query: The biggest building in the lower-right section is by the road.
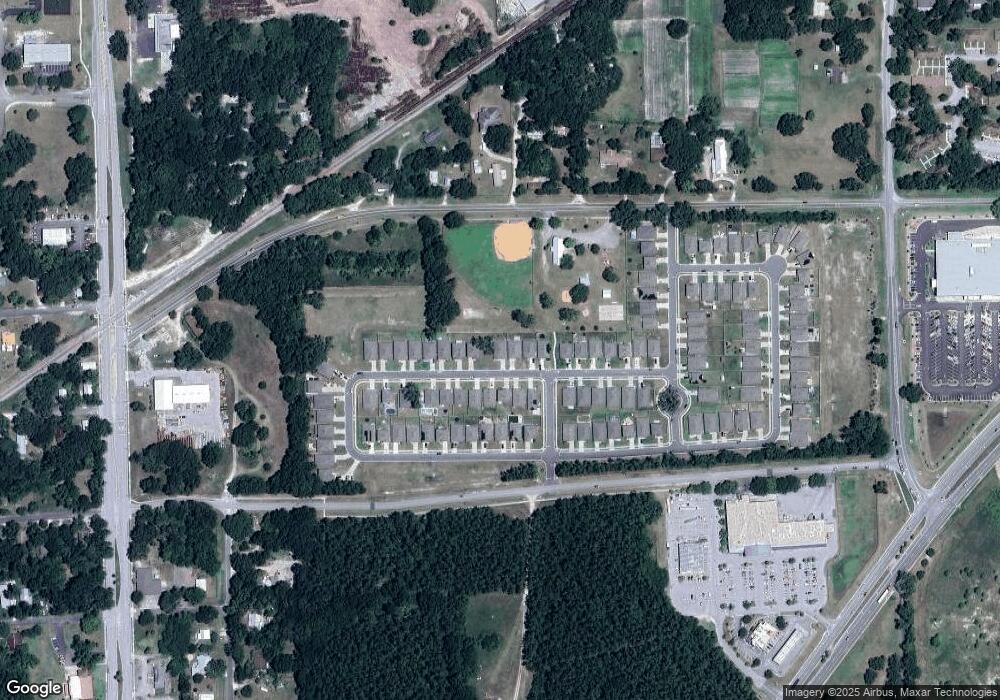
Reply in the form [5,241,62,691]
[727,494,834,556]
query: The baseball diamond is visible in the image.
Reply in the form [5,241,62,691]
[447,220,534,308]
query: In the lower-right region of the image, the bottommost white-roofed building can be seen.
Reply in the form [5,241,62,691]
[752,622,780,649]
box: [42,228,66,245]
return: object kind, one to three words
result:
building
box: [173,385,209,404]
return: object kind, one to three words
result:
shed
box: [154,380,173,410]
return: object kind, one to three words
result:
building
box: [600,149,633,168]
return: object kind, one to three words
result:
house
